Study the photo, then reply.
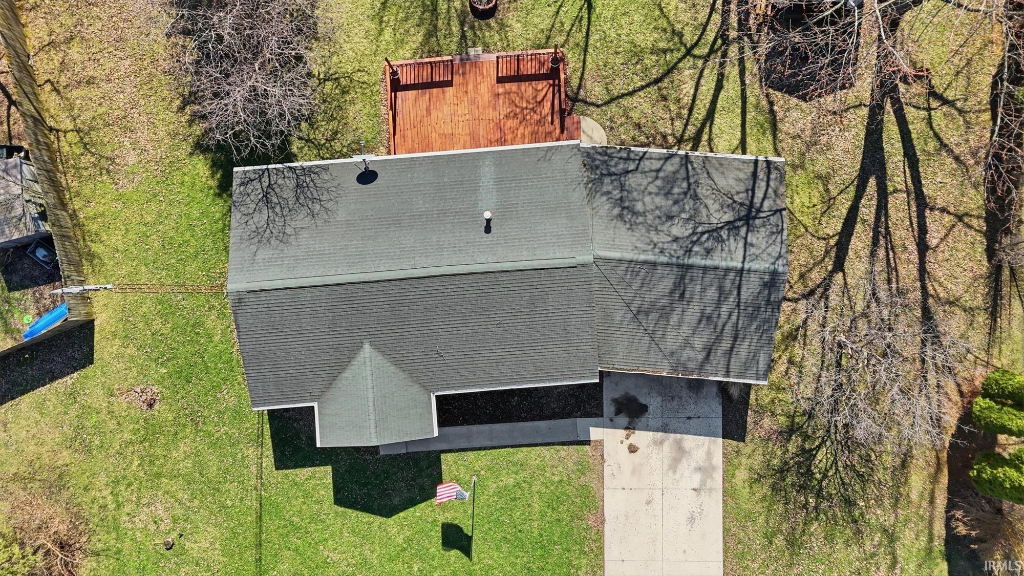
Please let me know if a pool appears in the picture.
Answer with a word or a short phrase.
No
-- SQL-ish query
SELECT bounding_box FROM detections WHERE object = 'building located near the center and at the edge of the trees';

[226,137,789,446]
